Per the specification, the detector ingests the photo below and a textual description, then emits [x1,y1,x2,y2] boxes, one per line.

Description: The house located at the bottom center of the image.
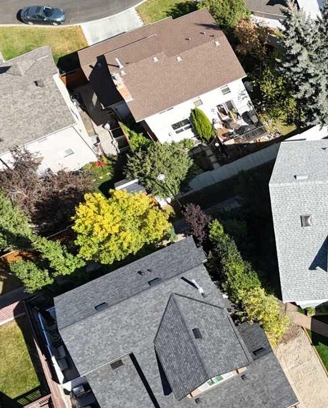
[53,235,299,408]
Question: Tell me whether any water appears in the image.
No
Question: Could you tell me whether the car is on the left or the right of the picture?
left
